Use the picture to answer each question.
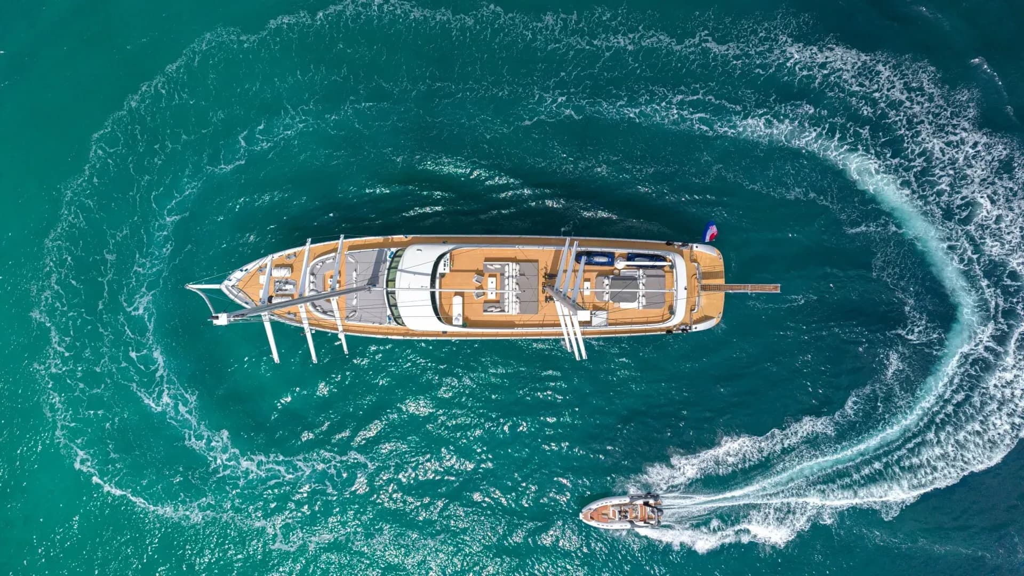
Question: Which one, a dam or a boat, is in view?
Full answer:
It is a boat that can be seen here.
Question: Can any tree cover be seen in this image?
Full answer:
No, the scene doesn't show any tree cover.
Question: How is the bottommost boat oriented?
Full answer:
The bottommost boat is laid out from left to right.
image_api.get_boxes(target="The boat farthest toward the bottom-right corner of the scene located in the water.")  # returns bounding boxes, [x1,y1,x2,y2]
[580,492,665,529]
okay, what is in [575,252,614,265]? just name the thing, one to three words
boat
